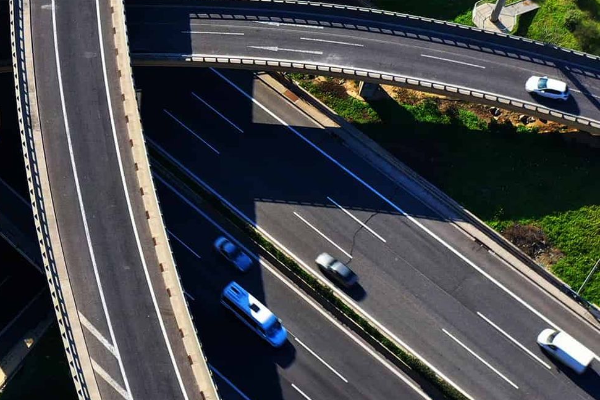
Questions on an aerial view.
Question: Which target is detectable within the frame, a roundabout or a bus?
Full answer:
The image shows a bus.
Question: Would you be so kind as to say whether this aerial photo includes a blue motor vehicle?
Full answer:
Yes, the photo shows a blue motor vehicle.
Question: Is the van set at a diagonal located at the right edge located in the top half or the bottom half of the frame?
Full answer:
The van set at a diagonal located at the right edge is in the bottom half of the image.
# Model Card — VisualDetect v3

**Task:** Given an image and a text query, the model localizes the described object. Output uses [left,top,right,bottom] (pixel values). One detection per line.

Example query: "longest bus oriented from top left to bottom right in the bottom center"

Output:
[215,277,302,354]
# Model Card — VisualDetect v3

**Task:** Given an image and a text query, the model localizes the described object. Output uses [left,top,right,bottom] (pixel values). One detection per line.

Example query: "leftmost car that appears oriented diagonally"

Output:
[210,234,257,276]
